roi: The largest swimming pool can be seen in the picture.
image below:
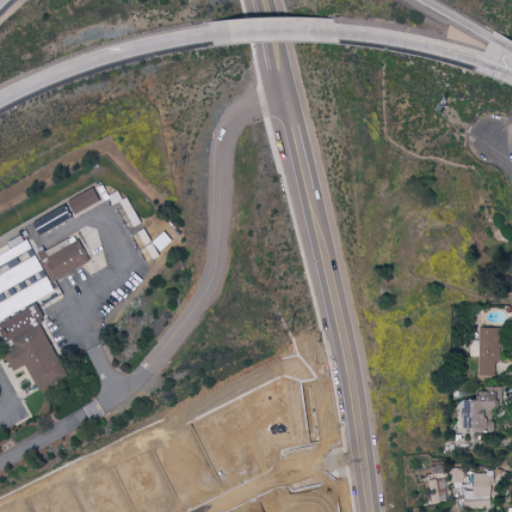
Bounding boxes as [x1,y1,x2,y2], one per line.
[487,310,507,324]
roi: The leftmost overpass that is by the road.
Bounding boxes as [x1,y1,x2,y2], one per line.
[214,17,336,48]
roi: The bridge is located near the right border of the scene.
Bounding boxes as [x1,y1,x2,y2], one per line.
[476,32,512,86]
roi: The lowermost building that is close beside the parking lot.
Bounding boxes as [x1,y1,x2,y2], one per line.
[0,302,66,389]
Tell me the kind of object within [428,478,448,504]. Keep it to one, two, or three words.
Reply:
house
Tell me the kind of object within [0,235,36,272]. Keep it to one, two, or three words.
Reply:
building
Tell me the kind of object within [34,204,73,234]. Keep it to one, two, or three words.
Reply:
shed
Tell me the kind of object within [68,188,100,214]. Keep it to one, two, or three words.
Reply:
building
